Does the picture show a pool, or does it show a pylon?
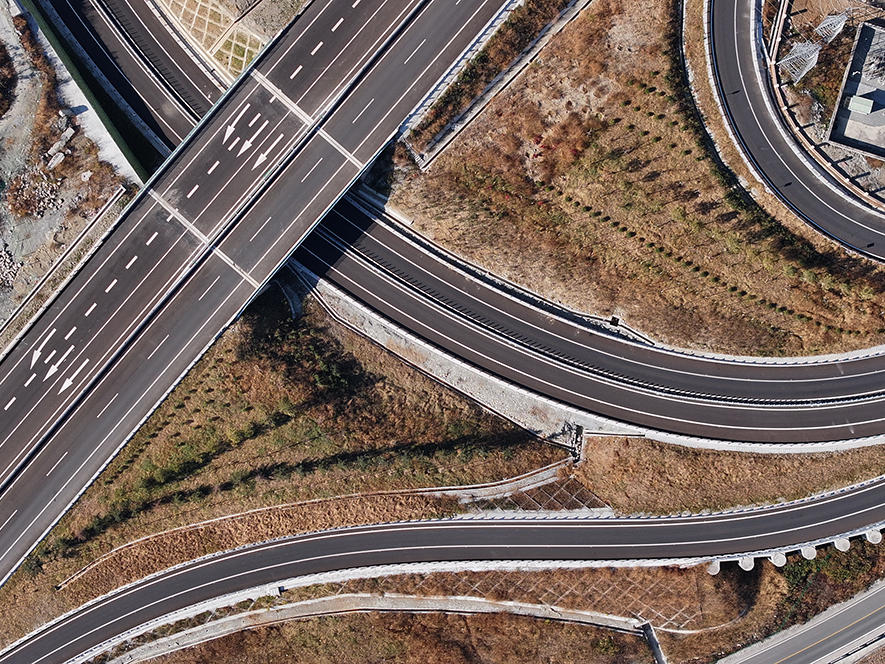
pylon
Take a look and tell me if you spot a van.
No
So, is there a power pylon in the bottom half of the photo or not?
No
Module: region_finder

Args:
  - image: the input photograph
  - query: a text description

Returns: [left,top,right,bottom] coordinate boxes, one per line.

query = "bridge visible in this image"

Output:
[111,59,369,301]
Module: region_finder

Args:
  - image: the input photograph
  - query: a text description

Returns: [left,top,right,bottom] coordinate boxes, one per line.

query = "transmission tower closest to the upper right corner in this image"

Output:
[816,1,860,43]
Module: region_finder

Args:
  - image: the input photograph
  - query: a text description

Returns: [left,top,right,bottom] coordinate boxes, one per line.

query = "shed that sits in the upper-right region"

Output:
[843,95,874,117]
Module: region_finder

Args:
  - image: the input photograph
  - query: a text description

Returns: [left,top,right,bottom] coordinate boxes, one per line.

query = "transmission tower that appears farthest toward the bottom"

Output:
[779,34,828,84]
